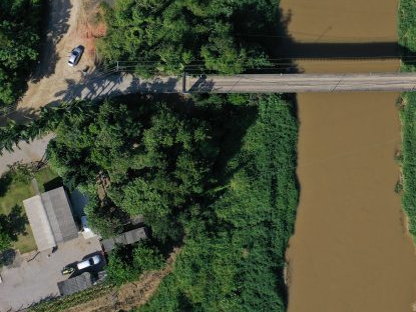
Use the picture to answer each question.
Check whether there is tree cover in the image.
Yes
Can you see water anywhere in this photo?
Yes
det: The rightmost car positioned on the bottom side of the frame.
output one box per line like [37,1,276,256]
[74,256,99,272]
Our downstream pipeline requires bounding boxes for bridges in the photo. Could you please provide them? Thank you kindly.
[182,72,416,95]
